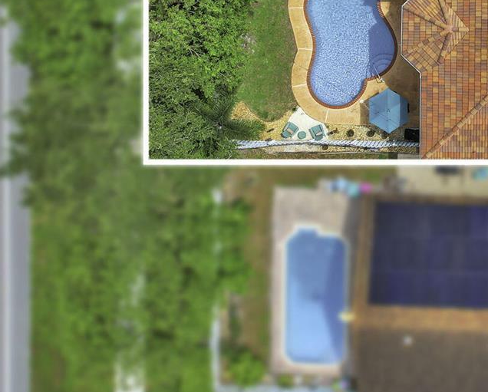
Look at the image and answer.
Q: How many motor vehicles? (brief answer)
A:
0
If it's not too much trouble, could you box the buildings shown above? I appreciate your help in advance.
[398,0,488,167]
[349,200,488,392]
